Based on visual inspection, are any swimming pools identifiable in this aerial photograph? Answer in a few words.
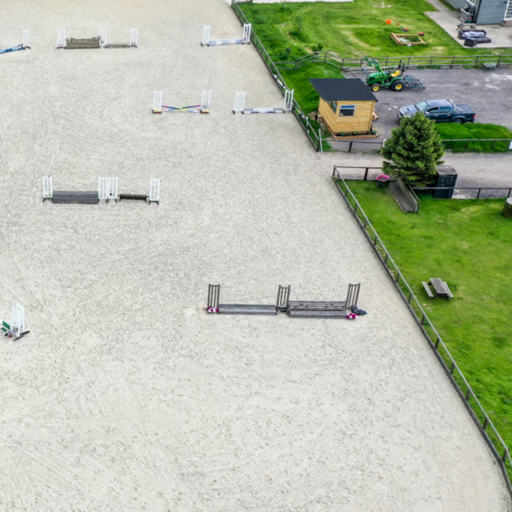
No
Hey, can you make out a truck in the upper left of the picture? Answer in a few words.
No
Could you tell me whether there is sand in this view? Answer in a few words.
Yes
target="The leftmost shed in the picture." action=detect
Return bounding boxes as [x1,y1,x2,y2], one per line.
[310,78,387,132]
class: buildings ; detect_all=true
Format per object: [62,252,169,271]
[310,78,387,132]
[447,0,512,25]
